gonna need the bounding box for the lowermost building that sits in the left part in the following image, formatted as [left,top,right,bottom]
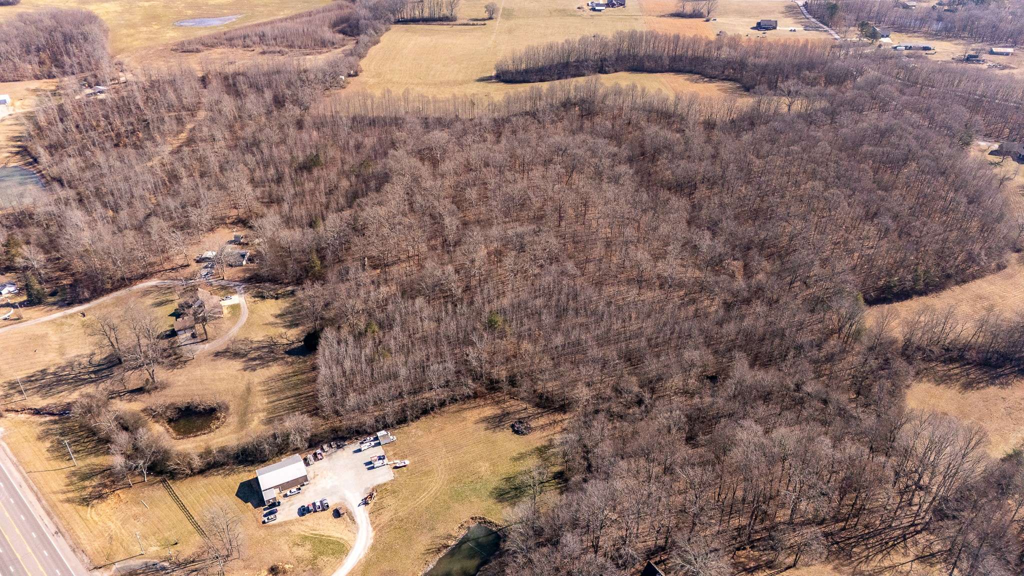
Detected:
[254,453,307,505]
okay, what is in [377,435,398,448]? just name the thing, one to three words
vehicle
